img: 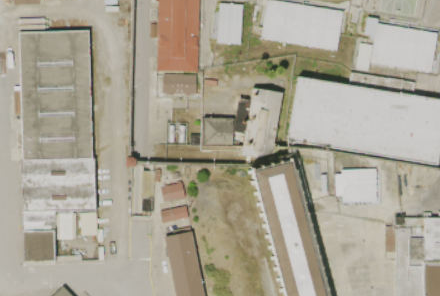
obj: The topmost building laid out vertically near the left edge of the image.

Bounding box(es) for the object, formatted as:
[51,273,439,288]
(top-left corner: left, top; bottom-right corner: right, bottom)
[20,30,96,210]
